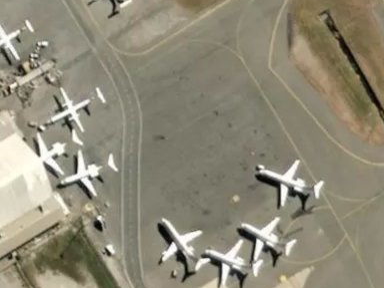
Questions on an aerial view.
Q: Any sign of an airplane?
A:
Yes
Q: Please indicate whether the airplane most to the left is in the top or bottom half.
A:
top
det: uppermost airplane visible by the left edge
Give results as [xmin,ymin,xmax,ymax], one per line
[0,19,36,58]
